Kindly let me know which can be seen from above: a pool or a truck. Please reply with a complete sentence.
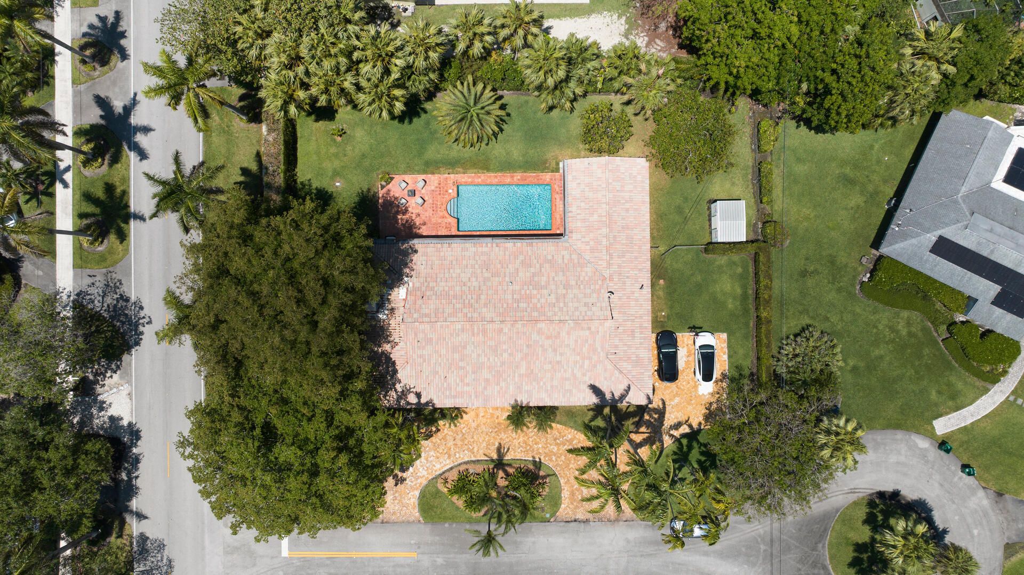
Visible in the photo is a pool.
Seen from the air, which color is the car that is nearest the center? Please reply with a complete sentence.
The color of the car that is nearest the center is black.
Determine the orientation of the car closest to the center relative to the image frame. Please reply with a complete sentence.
The car closest to the center has been laid out from top to bottom relative to the frame.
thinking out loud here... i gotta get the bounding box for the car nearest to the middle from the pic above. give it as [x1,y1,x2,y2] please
[654,330,680,383]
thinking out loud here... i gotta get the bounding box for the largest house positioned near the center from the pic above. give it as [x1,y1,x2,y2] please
[367,156,652,407]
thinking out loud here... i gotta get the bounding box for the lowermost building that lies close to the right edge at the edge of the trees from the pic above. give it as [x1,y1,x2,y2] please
[875,109,1024,326]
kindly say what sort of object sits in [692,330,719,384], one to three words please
car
